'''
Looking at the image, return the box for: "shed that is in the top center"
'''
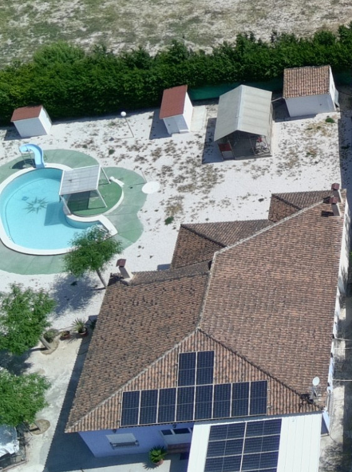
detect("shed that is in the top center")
[161,83,192,136]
